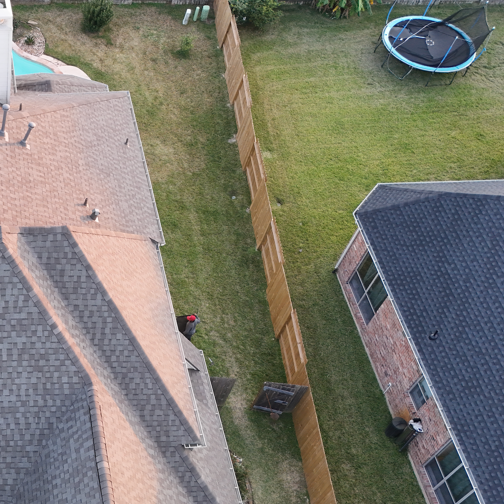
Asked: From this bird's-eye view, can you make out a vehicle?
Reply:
No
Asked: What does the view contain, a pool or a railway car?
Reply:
pool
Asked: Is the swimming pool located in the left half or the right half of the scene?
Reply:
left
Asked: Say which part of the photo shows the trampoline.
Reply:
top right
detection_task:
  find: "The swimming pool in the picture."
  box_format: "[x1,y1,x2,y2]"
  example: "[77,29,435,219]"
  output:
[13,39,64,75]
